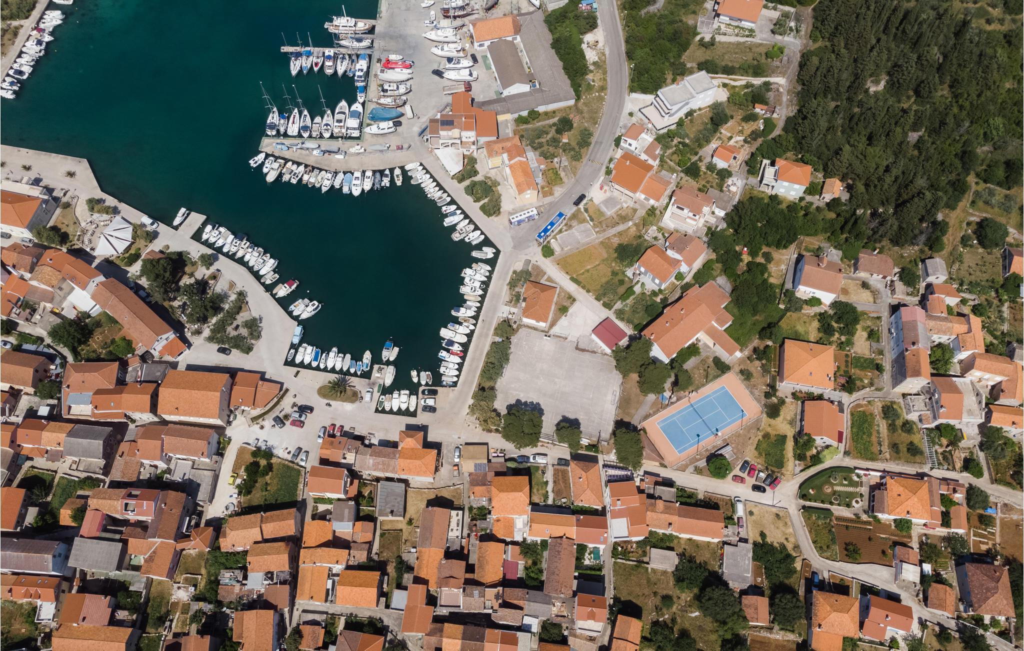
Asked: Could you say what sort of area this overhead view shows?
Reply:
residential area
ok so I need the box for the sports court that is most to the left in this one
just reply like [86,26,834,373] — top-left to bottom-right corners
[494,328,623,442]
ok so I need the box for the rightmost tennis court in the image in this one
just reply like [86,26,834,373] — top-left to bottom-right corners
[639,367,763,469]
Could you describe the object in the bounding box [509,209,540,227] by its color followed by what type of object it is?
white vehicle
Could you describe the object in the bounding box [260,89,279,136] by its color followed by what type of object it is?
white boat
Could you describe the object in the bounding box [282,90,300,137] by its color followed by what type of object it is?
white boat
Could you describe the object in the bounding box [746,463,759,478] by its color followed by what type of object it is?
red vehicle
